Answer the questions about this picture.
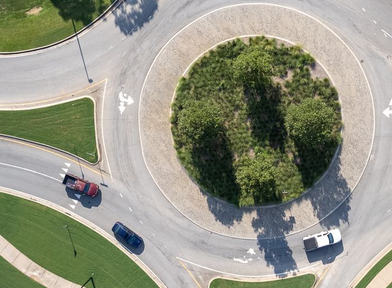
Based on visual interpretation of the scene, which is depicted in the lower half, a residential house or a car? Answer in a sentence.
There is a car in the lower half.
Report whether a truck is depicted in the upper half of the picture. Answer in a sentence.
No, no truck is visible in the upper half of the picture.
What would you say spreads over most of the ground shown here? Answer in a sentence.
Most of the picture is covered by paved ground.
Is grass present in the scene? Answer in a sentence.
Yes, there's grass in this view.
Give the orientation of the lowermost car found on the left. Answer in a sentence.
The lowermost car found on the left is oriented diagonally.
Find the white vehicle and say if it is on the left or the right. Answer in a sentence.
The white vehicle sits on the right side.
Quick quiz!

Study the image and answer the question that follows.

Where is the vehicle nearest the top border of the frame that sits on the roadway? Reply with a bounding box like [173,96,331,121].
[60,172,100,197]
